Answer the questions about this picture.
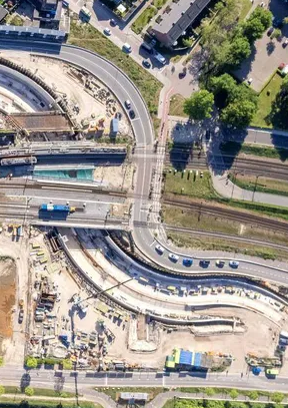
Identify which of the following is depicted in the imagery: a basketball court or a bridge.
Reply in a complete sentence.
Looking from above, you can make out a bridge.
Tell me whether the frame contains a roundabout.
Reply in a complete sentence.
No, there appears to be no roundabout in this shot.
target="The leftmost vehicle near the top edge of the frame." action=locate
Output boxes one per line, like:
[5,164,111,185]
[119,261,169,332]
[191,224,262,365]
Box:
[79,3,93,19]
